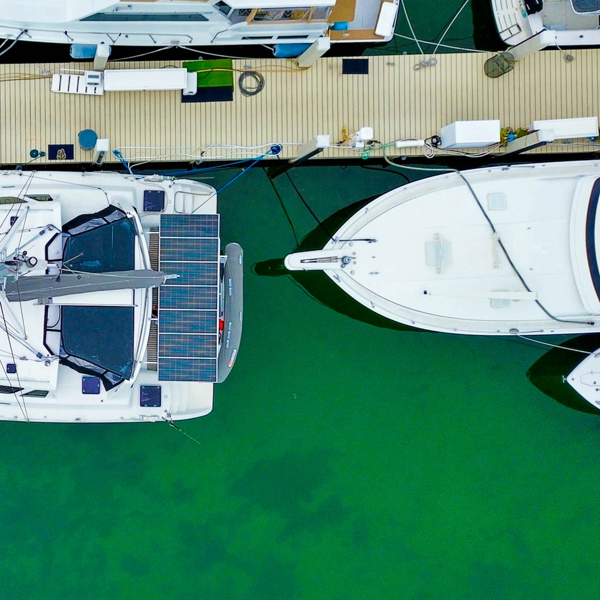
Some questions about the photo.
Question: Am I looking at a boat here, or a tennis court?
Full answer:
Of the two, only a boat appears.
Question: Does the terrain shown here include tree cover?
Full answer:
No, there is no tree cover in the image.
